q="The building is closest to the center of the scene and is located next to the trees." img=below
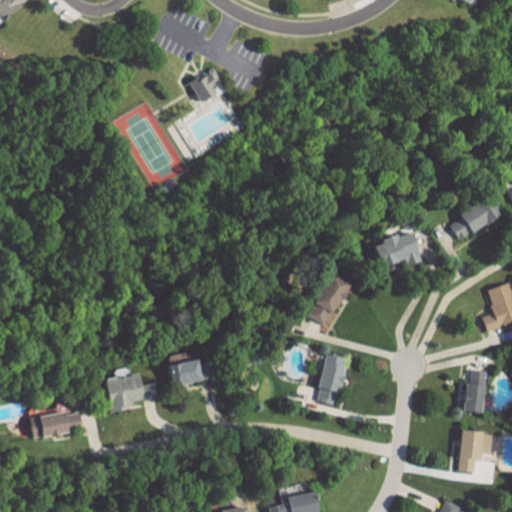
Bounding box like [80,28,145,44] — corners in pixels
[310,277,352,326]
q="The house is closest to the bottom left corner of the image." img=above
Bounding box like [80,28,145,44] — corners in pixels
[30,412,82,442]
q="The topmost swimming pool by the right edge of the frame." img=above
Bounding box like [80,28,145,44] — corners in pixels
[492,376,512,412]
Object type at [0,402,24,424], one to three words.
swimming pool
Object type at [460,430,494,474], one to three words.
house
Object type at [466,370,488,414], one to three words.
house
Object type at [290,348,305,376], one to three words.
swimming pool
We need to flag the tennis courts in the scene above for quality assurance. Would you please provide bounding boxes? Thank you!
[114,102,187,188]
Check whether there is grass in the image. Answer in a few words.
Yes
